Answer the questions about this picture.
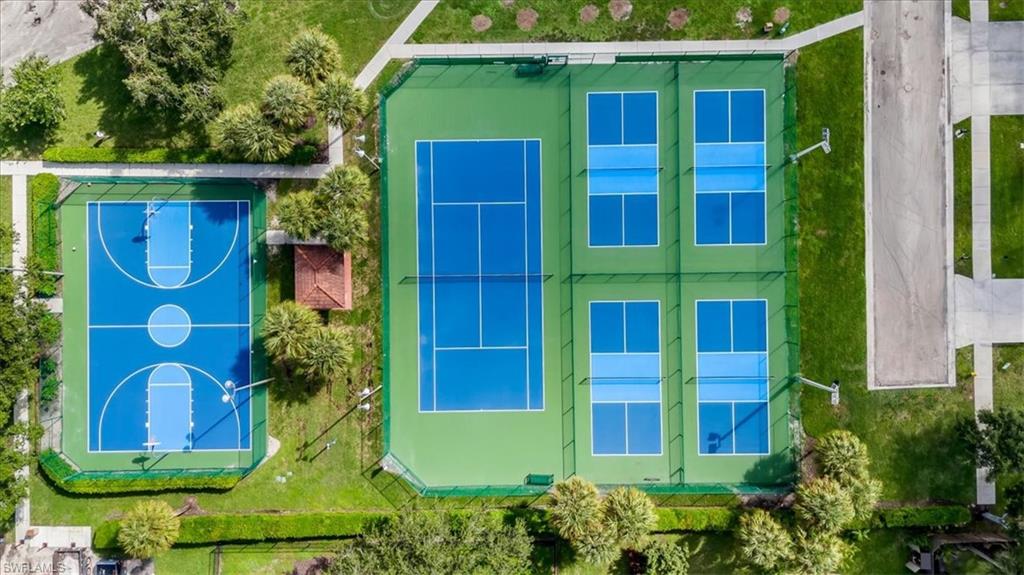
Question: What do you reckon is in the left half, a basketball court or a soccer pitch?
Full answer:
It is a basketball court that can be seen in the left half.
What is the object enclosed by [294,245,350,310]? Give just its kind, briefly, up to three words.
building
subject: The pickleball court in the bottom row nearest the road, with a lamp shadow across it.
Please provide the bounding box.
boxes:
[679,272,787,489]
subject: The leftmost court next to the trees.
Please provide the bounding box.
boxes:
[60,180,268,472]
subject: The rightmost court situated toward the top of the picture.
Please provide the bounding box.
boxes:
[677,63,786,272]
